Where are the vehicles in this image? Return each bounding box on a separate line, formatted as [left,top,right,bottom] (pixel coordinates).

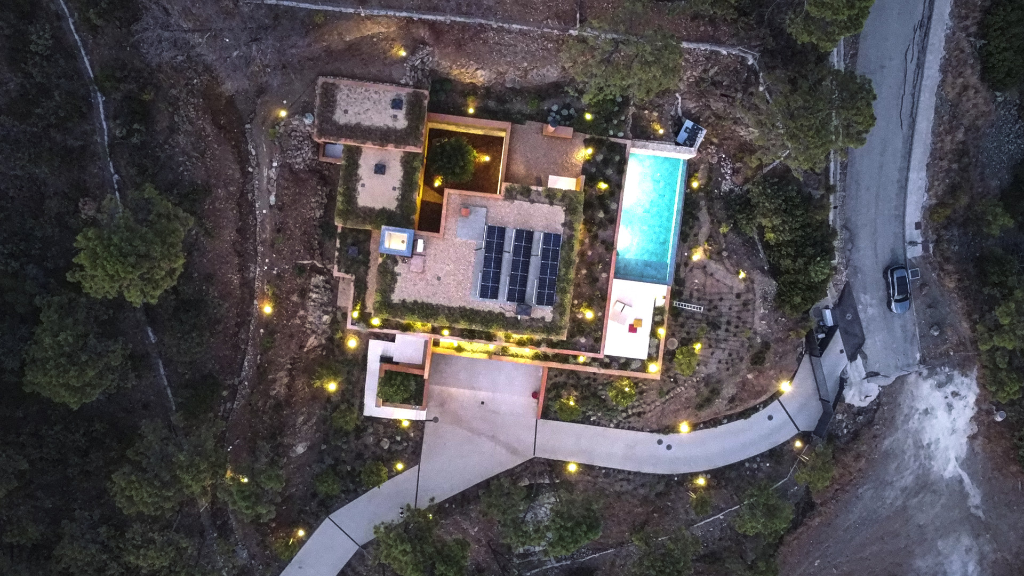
[885,265,915,314]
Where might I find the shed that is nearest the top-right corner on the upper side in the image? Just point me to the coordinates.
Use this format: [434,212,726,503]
[671,119,707,150]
